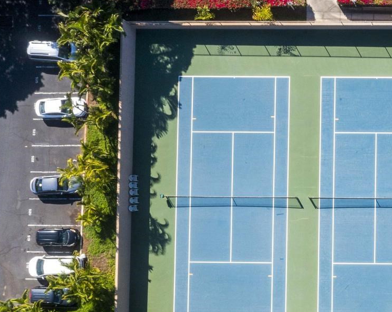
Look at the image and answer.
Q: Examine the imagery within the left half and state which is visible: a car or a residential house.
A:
car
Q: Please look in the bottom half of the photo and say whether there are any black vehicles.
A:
Yes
